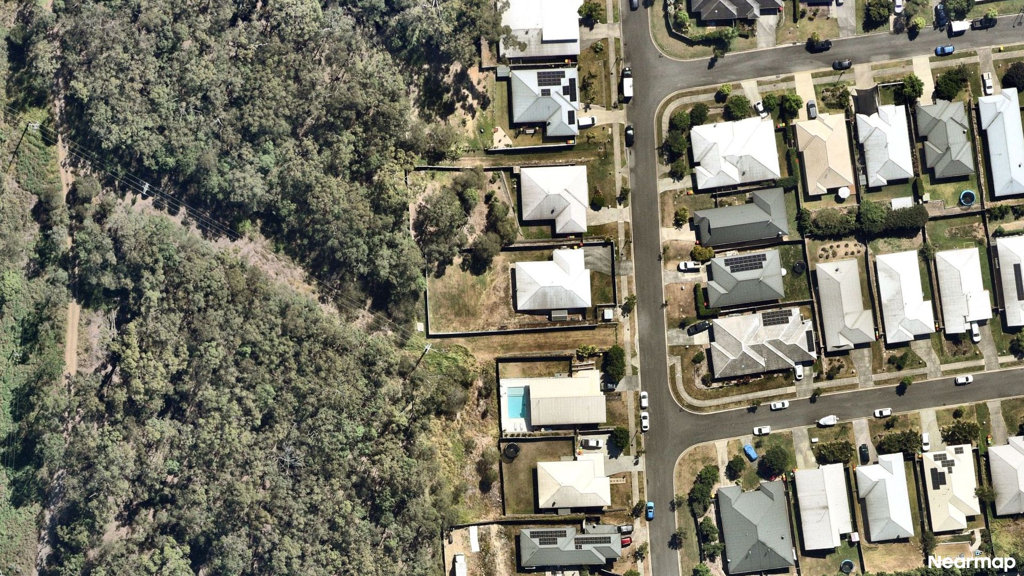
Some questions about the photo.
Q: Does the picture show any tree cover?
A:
Yes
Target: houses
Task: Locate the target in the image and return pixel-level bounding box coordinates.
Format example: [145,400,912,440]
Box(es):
[530,370,606,425]
[718,480,794,574]
[707,249,785,308]
[499,0,584,57]
[936,247,994,334]
[691,116,782,190]
[979,88,1024,196]
[816,258,876,352]
[916,97,975,178]
[795,463,853,550]
[796,114,855,195]
[691,0,783,19]
[511,67,580,136]
[520,524,622,567]
[710,307,818,378]
[923,443,982,532]
[997,235,1024,326]
[876,250,937,344]
[537,453,611,509]
[694,187,791,246]
[520,165,589,234]
[989,436,1024,516]
[857,452,916,542]
[857,105,916,187]
[515,248,591,310]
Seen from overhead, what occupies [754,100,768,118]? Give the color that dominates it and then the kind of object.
white car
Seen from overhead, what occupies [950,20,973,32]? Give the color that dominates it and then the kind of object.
white vehicle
